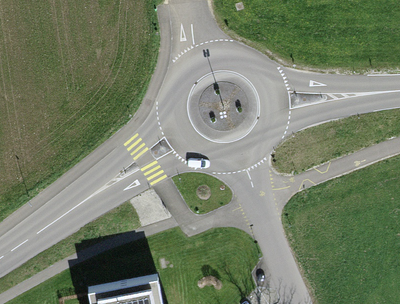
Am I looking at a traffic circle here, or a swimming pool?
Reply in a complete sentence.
This aerial view contains a traffic circle.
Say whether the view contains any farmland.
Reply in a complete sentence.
Yes, some farmland is visible.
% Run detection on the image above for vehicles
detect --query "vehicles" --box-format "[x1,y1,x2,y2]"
[188,160,210,170]
[257,272,266,284]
